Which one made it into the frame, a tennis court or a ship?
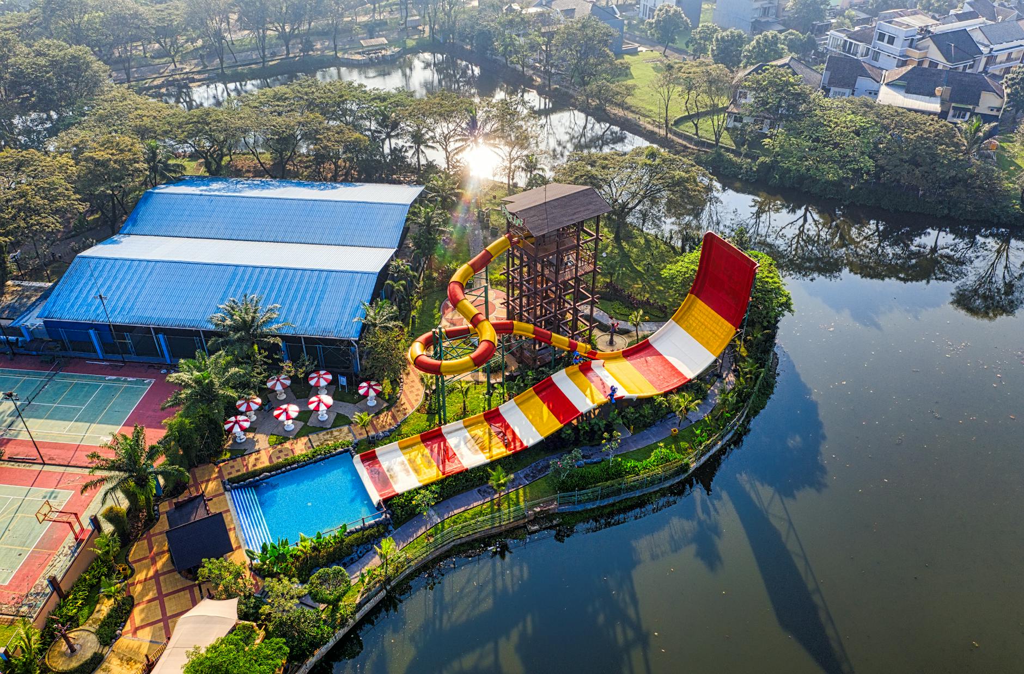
tennis court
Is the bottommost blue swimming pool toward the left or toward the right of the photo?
left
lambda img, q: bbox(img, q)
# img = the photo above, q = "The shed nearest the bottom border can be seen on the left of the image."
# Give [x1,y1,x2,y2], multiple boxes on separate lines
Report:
[165,499,233,588]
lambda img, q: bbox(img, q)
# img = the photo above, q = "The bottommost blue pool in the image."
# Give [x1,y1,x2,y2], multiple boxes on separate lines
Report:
[224,447,391,560]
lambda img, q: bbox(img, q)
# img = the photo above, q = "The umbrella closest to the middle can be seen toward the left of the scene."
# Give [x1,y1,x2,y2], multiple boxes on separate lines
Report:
[356,381,383,408]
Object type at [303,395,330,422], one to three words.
umbrella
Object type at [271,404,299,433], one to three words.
umbrella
